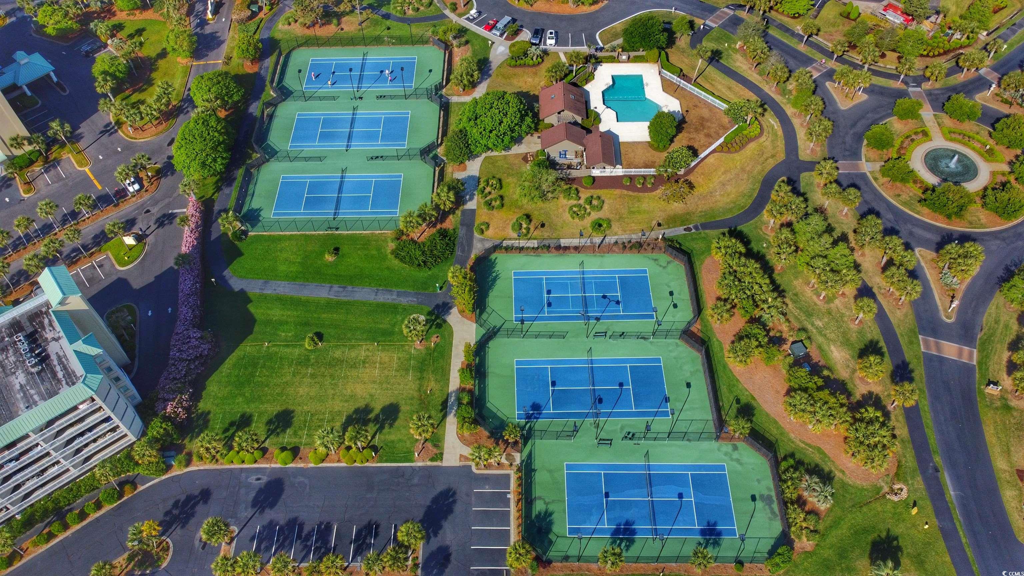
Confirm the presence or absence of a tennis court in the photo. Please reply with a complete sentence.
Yes, the image includes a tennis court.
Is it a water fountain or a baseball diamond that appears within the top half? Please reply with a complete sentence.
There is a water fountain within the top half.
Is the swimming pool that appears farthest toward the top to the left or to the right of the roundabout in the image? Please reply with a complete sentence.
From the viewer's perspective, the swimming pool that appears farthest toward the top falls to the left of the roundabout.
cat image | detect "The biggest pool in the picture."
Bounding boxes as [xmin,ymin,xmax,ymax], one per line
[582,62,683,143]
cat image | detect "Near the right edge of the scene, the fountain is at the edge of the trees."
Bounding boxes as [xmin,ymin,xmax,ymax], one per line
[924,146,981,185]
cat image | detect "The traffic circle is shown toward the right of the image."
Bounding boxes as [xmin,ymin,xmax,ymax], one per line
[825,87,1024,262]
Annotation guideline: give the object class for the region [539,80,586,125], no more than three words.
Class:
building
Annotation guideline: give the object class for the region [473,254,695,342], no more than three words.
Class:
tennis court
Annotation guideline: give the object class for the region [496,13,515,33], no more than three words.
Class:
vehicle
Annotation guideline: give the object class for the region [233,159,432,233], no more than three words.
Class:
tennis court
